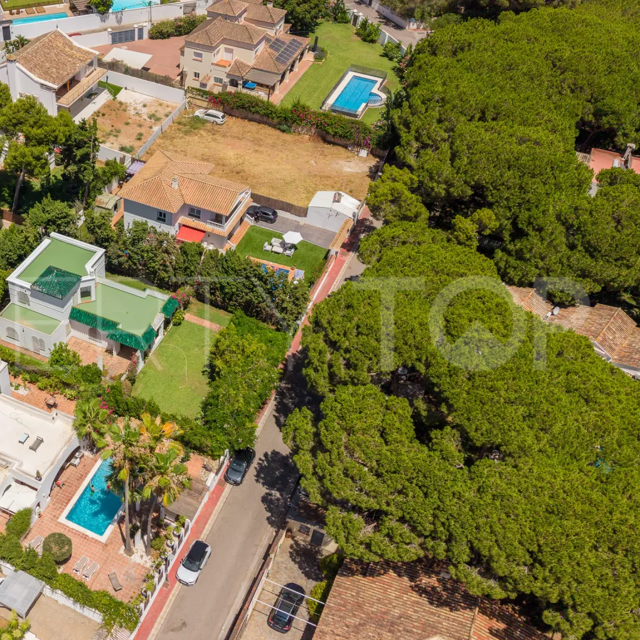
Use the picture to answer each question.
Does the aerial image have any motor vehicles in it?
Yes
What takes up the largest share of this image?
trees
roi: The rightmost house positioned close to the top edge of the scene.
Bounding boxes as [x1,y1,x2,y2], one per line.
[185,0,315,94]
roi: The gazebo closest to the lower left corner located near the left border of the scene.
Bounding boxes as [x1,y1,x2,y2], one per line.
[0,571,46,628]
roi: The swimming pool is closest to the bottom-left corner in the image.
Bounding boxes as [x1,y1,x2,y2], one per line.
[59,460,149,542]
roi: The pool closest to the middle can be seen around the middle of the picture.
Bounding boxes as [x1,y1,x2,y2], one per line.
[255,260,295,279]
